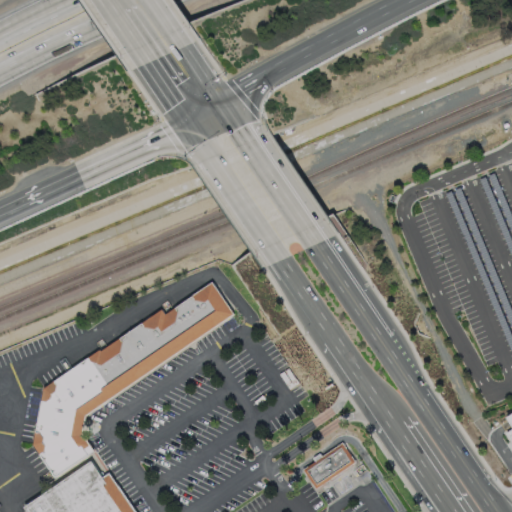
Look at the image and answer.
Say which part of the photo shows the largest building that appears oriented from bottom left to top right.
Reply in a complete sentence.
Look in the bottom left portion of the view to spot the largest building that appears oriented from bottom left to top right.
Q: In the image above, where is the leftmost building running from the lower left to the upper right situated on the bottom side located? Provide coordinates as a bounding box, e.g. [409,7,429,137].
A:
[35,281,234,480]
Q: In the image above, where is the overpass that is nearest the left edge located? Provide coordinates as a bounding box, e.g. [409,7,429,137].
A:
[80,0,194,73]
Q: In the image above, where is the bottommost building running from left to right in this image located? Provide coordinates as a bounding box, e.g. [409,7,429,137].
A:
[25,462,137,512]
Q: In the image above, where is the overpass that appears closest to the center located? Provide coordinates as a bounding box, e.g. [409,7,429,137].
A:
[186,116,343,268]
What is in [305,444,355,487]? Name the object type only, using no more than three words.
building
